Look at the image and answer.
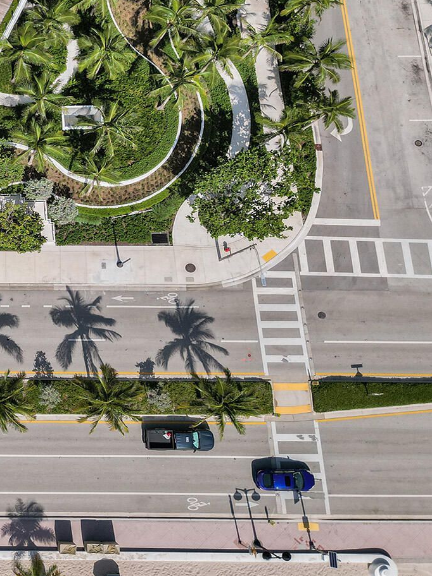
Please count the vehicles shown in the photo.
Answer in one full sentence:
In total, there are 2 vehicles in the scene.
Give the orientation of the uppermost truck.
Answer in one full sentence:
In this picture, the uppermost truck is oriented from side to side.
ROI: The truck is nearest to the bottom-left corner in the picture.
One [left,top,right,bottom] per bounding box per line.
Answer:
[140,423,212,455]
